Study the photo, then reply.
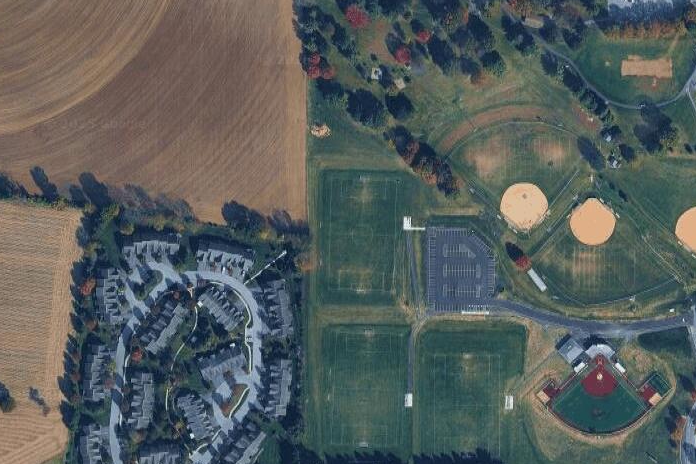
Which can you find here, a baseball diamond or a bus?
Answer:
baseball diamond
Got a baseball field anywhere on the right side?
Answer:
Yes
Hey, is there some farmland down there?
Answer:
Yes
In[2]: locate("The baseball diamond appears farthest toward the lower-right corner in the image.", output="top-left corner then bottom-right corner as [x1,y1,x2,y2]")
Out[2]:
[543,353,659,436]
